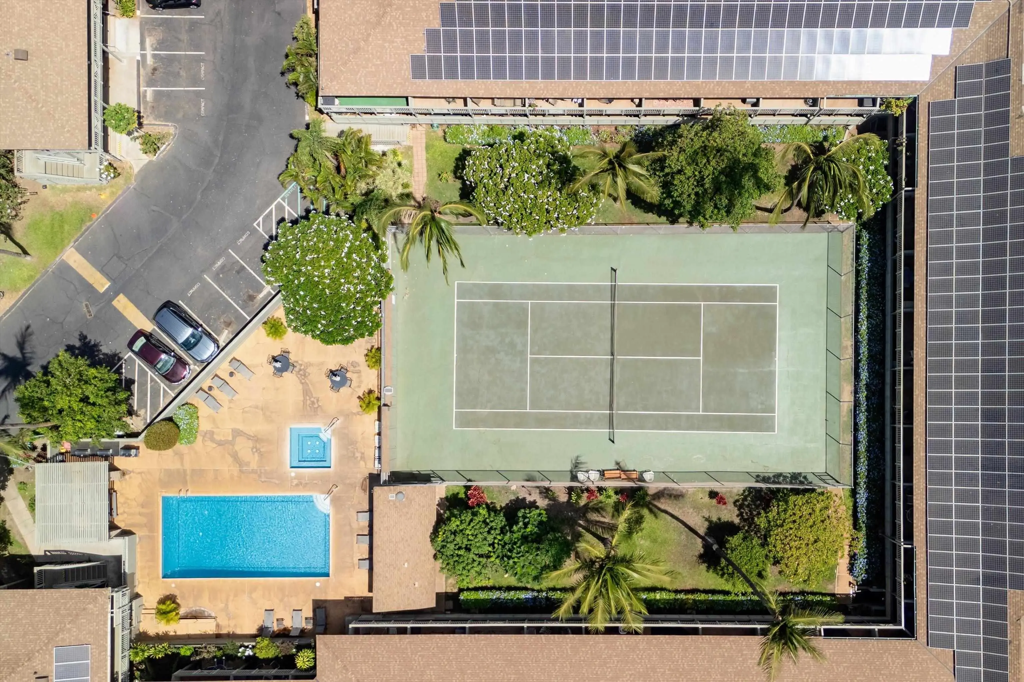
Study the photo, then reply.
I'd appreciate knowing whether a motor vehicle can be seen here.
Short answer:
Yes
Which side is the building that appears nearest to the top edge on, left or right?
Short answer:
left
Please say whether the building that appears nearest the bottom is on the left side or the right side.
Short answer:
left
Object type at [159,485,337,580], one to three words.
swimming pool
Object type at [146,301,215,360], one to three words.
car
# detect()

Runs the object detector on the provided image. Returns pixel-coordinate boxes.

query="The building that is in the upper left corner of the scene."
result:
[0,0,127,186]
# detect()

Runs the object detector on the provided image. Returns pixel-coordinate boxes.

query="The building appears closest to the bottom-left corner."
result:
[0,560,135,682]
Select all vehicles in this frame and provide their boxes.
[146,301,215,360]
[143,0,201,10]
[121,328,187,383]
